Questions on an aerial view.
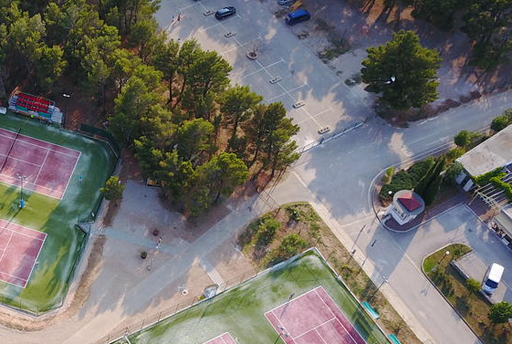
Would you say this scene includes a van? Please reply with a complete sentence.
Yes, this view includes a van.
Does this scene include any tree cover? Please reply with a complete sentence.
Yes, there is tree cover in the image.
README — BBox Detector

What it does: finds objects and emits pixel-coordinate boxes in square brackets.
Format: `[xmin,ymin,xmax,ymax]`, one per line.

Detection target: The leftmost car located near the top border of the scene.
[215,2,238,17]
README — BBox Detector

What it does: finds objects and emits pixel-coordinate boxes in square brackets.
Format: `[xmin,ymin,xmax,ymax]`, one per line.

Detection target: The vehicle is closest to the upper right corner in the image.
[285,6,312,22]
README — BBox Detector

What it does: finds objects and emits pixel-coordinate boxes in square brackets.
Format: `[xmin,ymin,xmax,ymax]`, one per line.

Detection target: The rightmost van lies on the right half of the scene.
[482,257,511,295]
